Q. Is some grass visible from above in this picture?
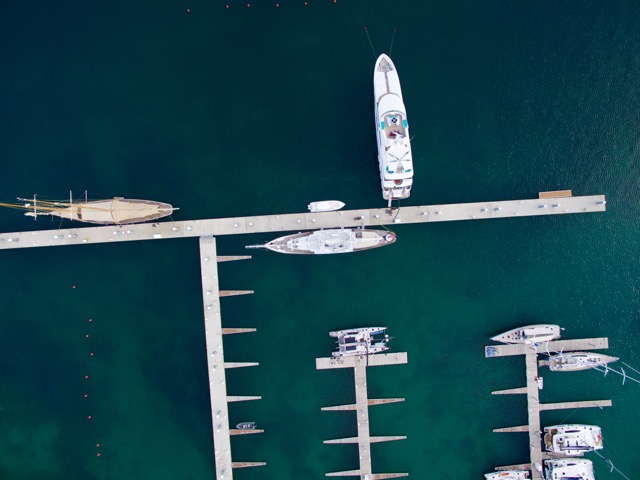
No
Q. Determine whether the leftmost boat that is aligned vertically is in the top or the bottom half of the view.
top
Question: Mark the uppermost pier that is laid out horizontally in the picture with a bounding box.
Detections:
[0,195,606,250]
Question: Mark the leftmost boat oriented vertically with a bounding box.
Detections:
[365,28,415,210]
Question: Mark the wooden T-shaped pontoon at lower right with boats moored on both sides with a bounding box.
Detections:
[485,338,611,480]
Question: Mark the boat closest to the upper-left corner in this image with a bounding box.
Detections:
[0,189,178,229]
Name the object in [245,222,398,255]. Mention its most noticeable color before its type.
white boat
